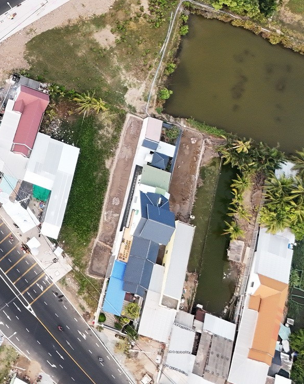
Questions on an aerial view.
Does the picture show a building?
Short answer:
Yes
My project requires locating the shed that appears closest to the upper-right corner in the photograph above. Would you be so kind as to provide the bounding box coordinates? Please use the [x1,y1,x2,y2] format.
[265,162,298,180]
